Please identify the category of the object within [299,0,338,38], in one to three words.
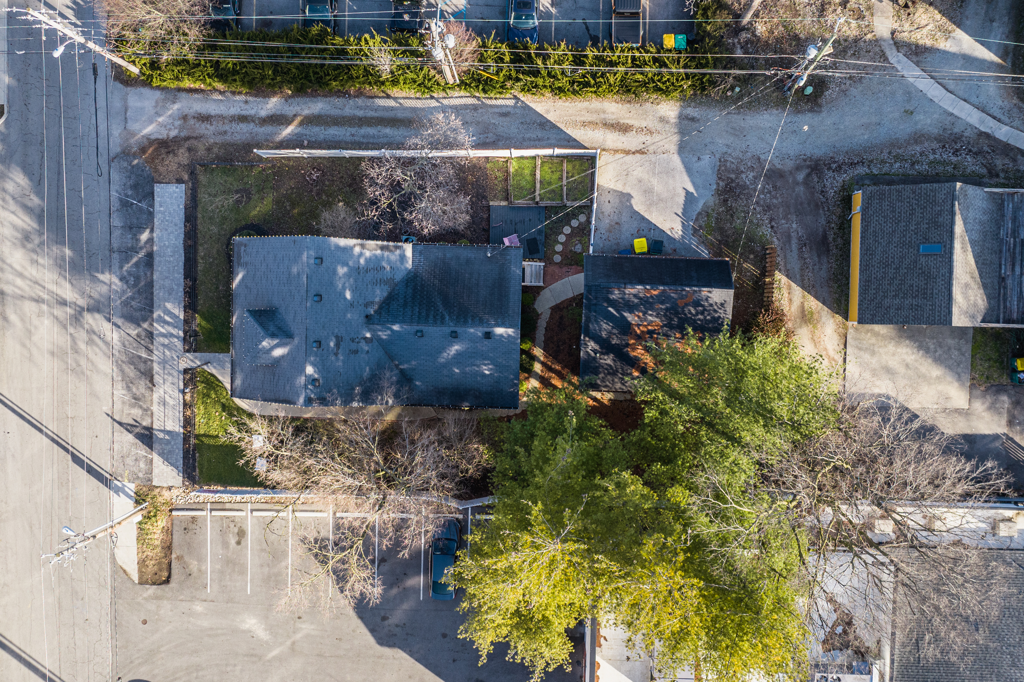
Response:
car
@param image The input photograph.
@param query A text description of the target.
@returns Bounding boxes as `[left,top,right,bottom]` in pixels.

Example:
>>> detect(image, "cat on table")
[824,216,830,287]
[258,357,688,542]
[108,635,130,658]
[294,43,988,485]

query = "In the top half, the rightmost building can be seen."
[847,183,1023,327]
